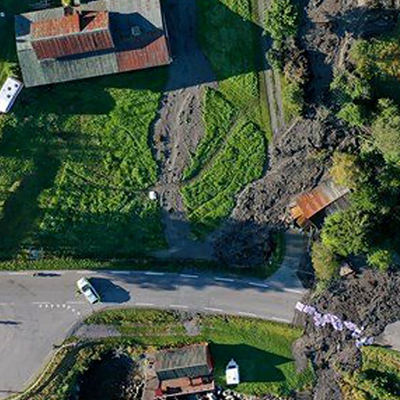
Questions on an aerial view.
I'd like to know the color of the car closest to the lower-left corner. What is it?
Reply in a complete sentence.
The color of the car closest to the lower-left corner is white.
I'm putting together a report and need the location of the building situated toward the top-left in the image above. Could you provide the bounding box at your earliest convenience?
[13,0,172,87]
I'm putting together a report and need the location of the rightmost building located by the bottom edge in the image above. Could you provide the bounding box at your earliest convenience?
[150,335,216,400]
